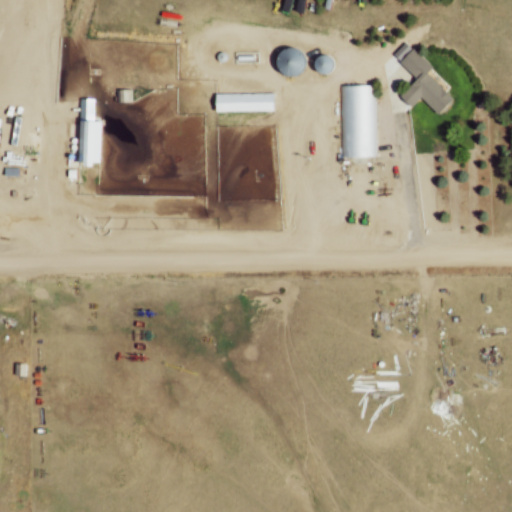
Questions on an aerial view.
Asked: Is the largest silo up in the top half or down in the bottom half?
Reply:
top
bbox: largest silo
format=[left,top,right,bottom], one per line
[276,46,308,78]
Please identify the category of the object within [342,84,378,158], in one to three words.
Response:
barn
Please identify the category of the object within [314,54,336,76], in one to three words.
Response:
silo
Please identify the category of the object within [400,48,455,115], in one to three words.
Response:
house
